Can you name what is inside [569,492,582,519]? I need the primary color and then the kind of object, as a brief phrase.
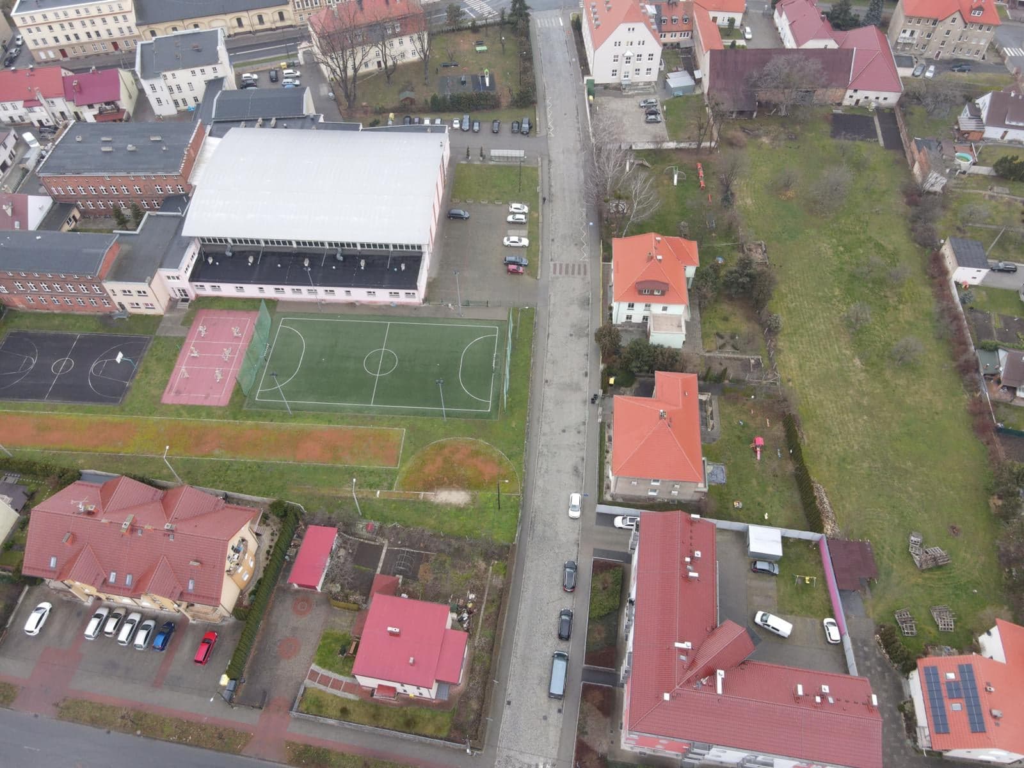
white vehicle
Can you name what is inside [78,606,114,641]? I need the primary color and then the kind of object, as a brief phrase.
white car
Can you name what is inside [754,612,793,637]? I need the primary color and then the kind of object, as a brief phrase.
white vehicle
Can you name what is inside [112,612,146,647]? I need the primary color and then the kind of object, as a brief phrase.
white car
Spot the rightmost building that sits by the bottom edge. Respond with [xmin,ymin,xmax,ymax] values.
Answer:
[898,611,1024,757]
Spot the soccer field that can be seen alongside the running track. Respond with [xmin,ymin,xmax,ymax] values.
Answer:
[245,311,510,420]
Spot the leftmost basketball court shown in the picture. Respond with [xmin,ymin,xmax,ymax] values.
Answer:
[0,329,154,405]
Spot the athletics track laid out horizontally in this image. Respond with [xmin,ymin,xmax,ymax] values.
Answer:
[0,411,405,467]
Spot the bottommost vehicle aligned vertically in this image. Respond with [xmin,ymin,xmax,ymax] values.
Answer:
[550,651,568,696]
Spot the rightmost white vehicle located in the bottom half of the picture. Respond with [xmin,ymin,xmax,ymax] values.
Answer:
[820,616,844,646]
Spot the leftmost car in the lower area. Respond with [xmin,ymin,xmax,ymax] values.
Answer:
[21,604,54,635]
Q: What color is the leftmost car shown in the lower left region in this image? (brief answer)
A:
white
